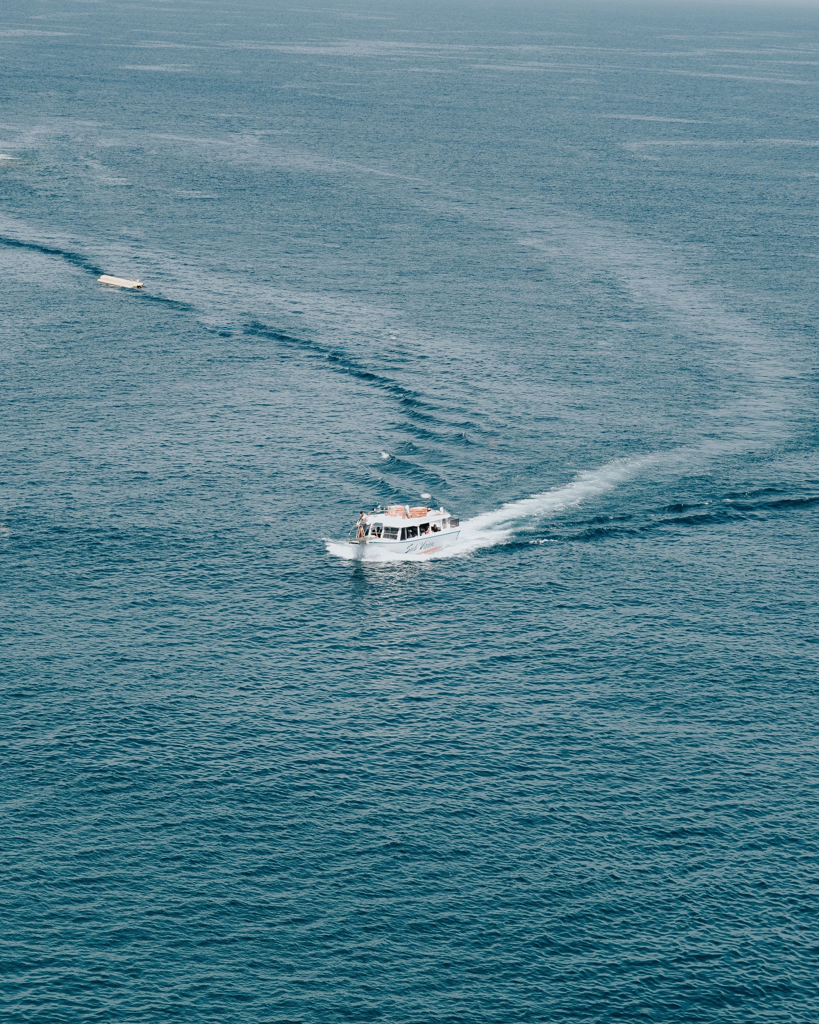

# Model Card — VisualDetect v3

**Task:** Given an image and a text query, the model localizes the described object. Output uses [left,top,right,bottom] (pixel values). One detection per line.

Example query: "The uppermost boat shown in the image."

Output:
[96,275,146,289]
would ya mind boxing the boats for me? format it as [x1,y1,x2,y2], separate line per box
[96,275,146,289]
[349,500,460,556]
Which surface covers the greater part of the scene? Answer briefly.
water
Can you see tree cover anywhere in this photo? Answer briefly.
No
